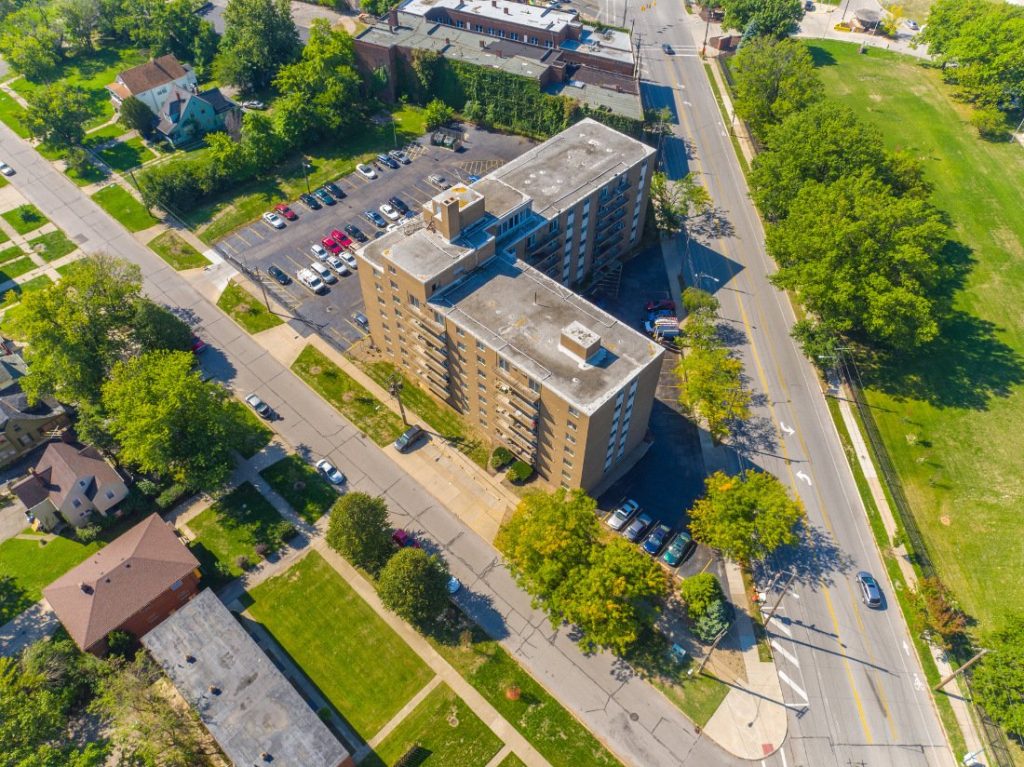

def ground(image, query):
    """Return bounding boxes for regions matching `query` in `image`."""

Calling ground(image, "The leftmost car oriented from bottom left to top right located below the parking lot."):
[394,423,425,450]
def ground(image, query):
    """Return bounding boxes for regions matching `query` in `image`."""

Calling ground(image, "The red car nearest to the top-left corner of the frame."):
[276,204,296,220]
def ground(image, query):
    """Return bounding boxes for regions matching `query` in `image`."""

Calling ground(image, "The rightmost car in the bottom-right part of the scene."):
[854,572,884,609]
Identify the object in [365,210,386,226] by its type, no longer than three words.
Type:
car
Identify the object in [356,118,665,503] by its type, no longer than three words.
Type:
building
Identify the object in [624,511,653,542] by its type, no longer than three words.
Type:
car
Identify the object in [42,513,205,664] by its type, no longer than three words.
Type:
house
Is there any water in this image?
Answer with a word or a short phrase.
No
